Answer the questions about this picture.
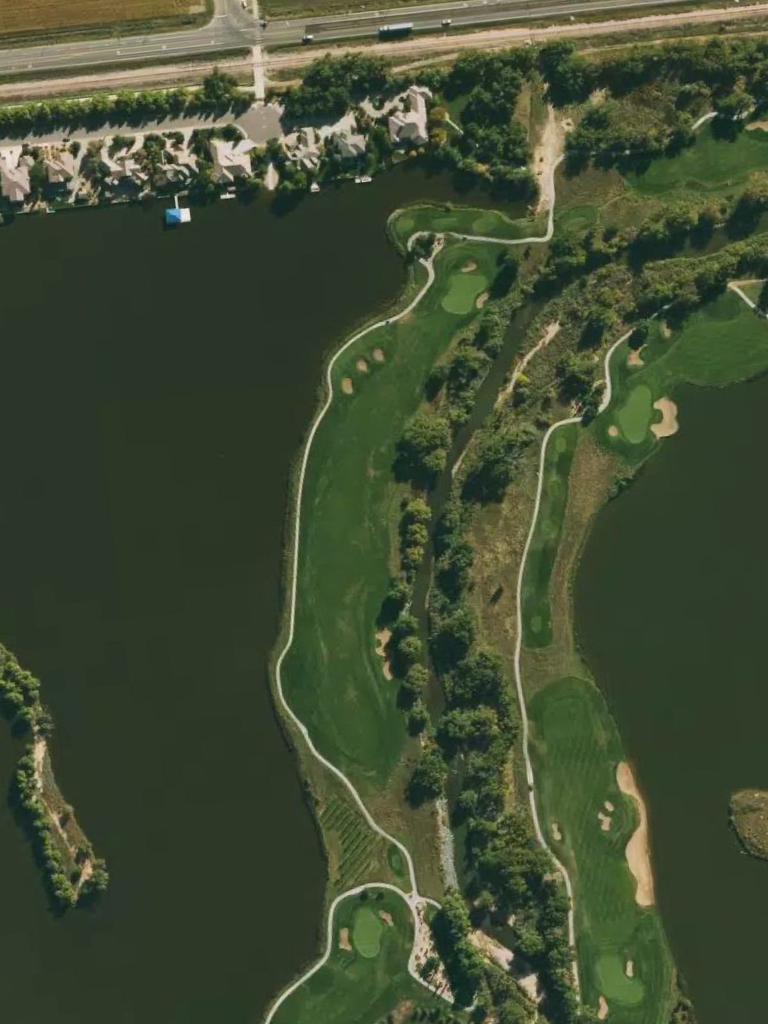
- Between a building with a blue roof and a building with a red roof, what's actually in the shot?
building with a blue roof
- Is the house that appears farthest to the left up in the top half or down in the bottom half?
top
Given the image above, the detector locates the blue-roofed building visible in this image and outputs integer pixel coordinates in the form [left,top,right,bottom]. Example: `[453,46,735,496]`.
[165,207,191,225]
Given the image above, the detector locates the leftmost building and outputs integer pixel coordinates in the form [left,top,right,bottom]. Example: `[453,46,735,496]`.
[0,154,33,201]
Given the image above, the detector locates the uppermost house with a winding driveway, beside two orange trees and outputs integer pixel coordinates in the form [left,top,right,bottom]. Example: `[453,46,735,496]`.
[388,86,428,144]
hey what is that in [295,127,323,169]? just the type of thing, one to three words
house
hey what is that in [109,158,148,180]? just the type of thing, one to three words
house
